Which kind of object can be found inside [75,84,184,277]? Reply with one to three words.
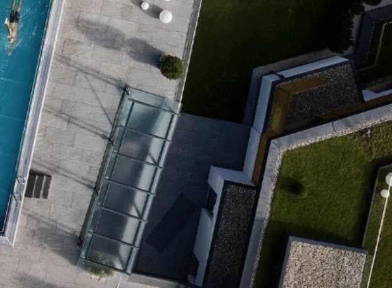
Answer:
building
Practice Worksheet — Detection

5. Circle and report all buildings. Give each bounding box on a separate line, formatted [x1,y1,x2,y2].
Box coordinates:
[75,84,184,277]
[190,46,392,288]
